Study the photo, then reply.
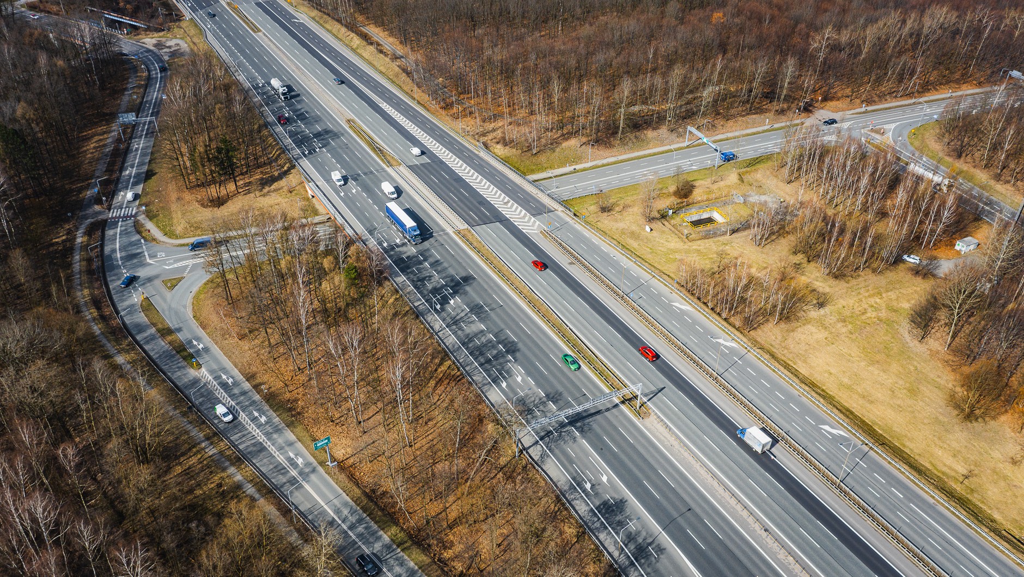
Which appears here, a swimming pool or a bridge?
bridge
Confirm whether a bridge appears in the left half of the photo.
Yes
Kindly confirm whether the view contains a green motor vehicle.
Yes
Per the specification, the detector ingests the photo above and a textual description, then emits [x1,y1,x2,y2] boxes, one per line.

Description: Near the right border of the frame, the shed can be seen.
[953,238,982,259]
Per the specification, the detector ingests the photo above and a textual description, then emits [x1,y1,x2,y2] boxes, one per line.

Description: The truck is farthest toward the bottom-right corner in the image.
[731,424,768,455]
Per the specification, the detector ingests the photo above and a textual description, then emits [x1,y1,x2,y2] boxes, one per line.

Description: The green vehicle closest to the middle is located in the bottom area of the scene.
[560,354,578,371]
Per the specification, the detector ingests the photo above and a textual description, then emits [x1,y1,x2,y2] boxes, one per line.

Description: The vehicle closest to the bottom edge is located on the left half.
[352,551,376,576]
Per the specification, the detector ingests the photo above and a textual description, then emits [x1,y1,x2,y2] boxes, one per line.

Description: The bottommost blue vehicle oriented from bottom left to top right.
[118,274,136,286]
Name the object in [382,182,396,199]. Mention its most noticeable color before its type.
white vehicle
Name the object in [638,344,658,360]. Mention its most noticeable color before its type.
red car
